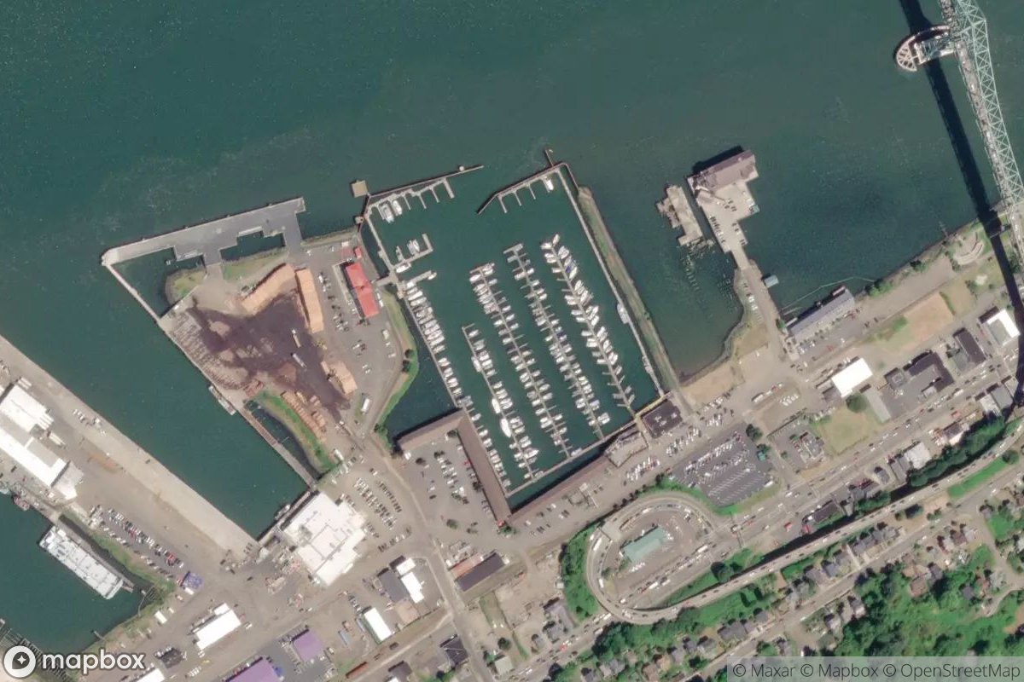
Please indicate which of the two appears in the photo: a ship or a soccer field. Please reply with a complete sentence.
The image shows a ship.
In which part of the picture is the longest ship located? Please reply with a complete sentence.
The longest ship is located in the bottom left region of the scene.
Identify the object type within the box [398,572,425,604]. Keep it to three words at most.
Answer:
building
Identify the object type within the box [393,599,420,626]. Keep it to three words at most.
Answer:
shed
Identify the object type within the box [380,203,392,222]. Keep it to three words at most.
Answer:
boat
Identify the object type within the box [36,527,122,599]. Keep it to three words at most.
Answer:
ship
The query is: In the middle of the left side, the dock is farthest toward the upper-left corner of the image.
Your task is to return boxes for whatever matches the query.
[101,259,161,320]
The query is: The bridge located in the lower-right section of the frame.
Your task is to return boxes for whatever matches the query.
[583,422,1024,621]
